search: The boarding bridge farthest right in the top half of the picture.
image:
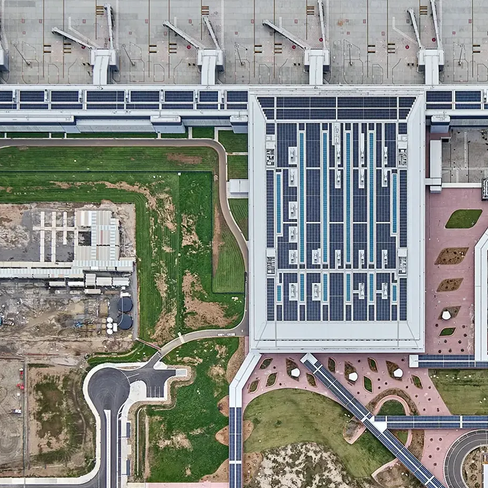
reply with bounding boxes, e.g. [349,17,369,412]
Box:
[427,0,441,50]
